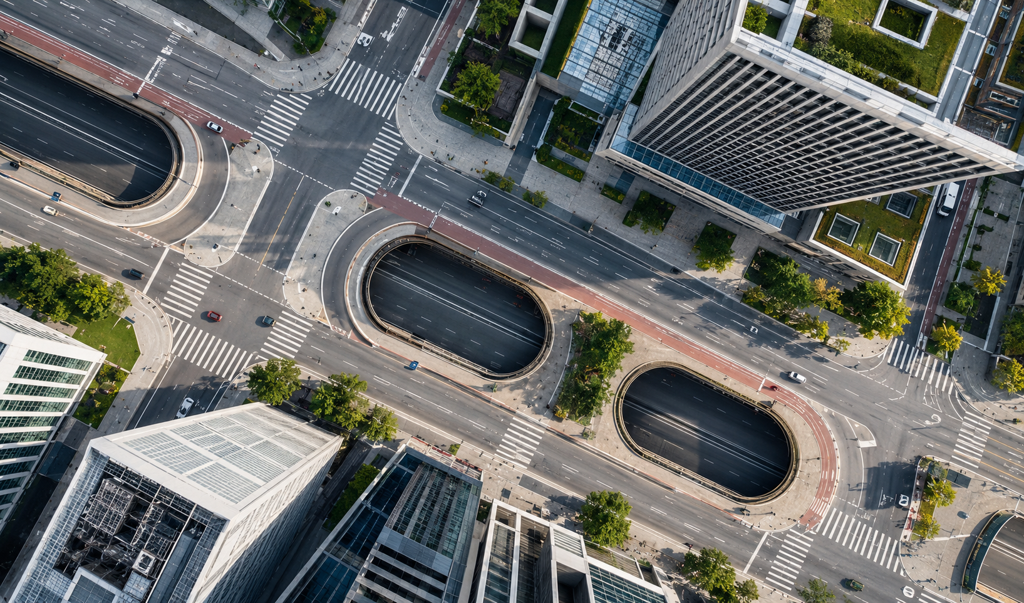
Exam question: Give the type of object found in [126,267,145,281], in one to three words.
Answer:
car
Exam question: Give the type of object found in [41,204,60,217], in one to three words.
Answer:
vehicle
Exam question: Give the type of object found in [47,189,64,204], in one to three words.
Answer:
vehicle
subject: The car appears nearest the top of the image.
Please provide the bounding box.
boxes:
[356,33,370,48]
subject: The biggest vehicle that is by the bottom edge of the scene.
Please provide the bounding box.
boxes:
[845,576,867,593]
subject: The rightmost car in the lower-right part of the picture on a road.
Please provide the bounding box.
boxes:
[897,493,909,507]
